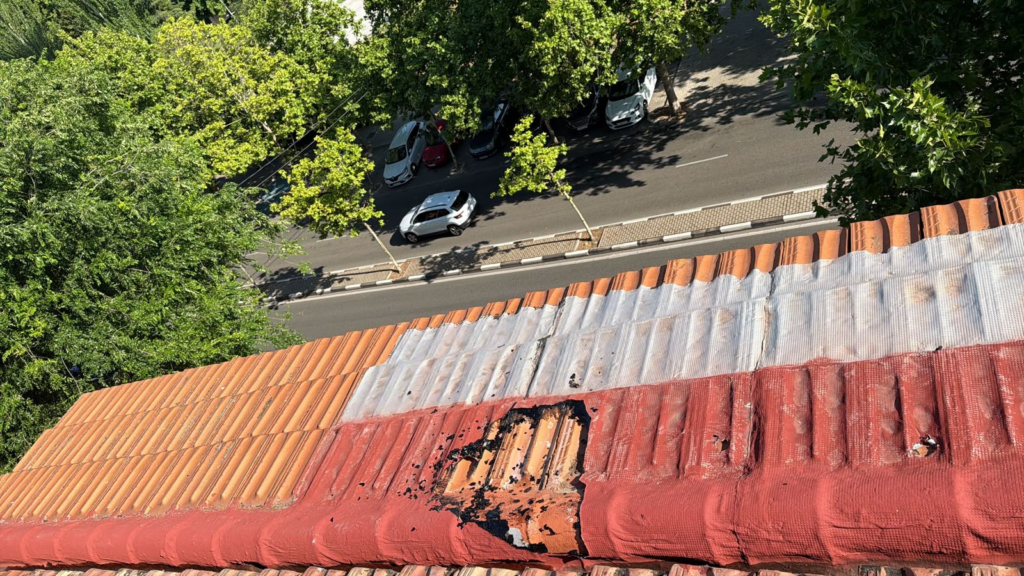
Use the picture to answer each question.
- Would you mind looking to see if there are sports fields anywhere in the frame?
No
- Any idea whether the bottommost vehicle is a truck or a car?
car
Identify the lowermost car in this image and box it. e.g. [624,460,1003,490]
[396,189,478,245]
